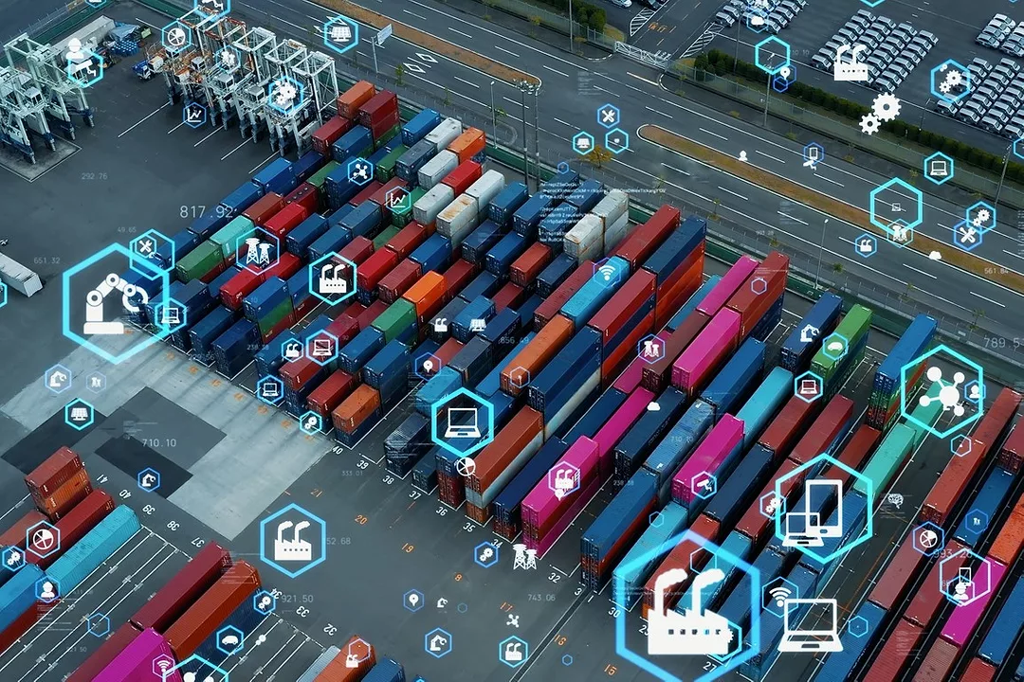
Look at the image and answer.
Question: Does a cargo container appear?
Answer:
Yes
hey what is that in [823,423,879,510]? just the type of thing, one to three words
shipping container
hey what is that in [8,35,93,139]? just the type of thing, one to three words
work vehicle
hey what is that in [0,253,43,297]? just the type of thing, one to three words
shipping container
